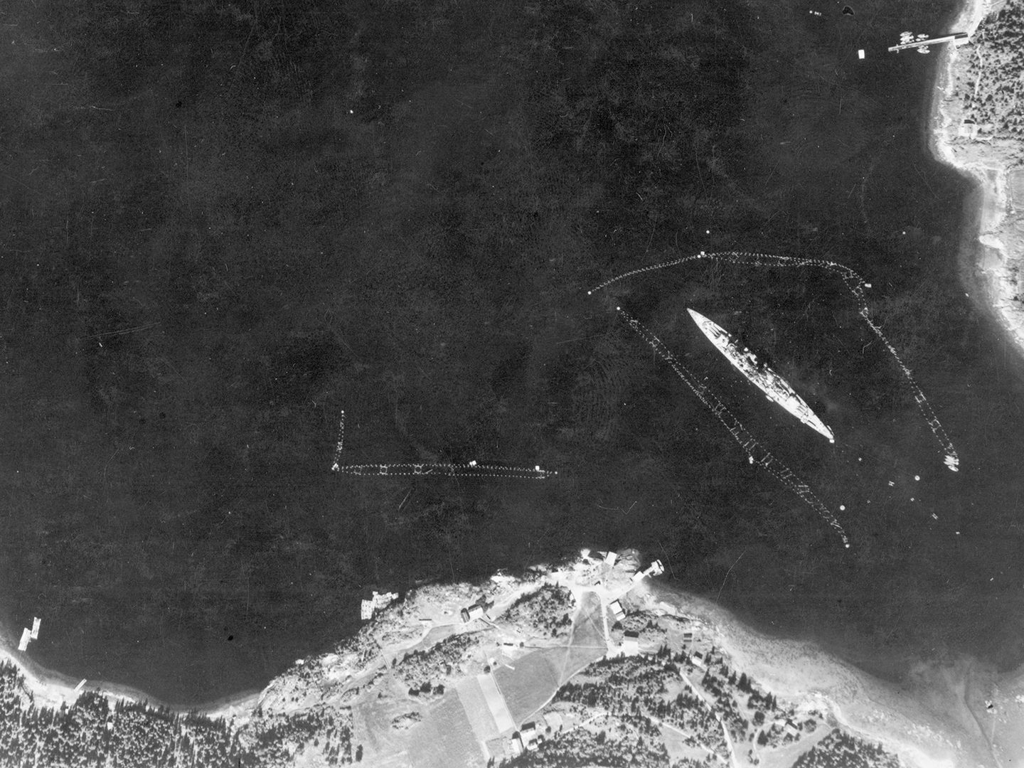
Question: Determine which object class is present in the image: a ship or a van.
ship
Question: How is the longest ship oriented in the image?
diagonally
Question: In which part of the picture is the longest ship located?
right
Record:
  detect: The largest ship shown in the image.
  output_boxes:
[687,308,832,439]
